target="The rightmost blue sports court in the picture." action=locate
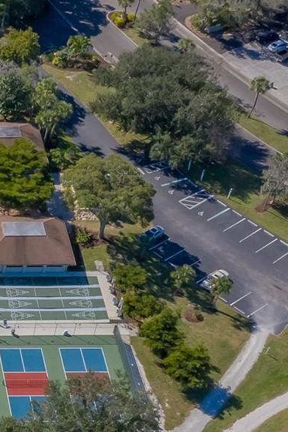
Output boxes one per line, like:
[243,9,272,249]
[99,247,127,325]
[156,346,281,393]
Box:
[59,347,113,419]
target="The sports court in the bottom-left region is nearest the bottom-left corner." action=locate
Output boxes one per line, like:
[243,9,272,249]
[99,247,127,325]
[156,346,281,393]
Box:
[0,347,51,421]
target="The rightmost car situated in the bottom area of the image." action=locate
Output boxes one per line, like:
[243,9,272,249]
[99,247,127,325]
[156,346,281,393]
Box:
[203,268,229,285]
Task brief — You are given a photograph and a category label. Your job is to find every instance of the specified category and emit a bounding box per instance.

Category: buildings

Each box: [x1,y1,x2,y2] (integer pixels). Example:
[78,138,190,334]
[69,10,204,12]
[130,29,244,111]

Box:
[0,216,76,276]
[0,123,50,175]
